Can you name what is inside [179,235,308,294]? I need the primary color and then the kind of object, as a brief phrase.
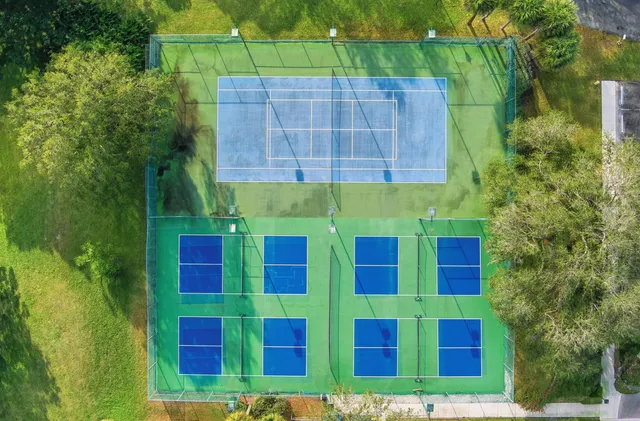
blue sports court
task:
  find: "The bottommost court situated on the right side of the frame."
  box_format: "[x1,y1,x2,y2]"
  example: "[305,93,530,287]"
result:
[353,318,482,377]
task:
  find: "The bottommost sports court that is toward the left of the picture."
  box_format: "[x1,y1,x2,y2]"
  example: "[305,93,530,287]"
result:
[178,317,308,375]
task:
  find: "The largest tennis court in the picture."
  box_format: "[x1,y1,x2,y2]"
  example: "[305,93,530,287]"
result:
[156,41,508,217]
